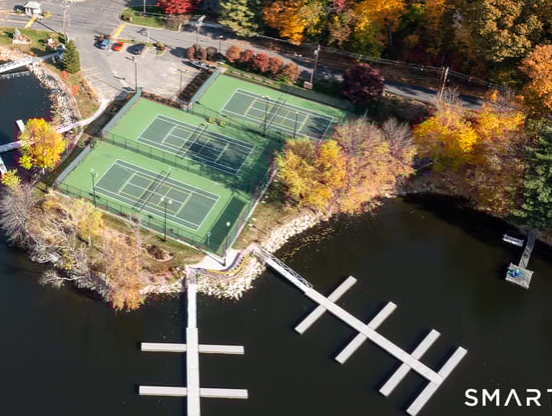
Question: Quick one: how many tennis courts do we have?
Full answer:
There are 3 tennis courts in the image.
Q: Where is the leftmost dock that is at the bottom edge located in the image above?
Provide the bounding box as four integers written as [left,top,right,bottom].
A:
[139,325,248,416]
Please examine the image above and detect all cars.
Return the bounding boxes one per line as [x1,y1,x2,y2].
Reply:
[98,41,113,51]
[131,45,145,54]
[111,41,125,50]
